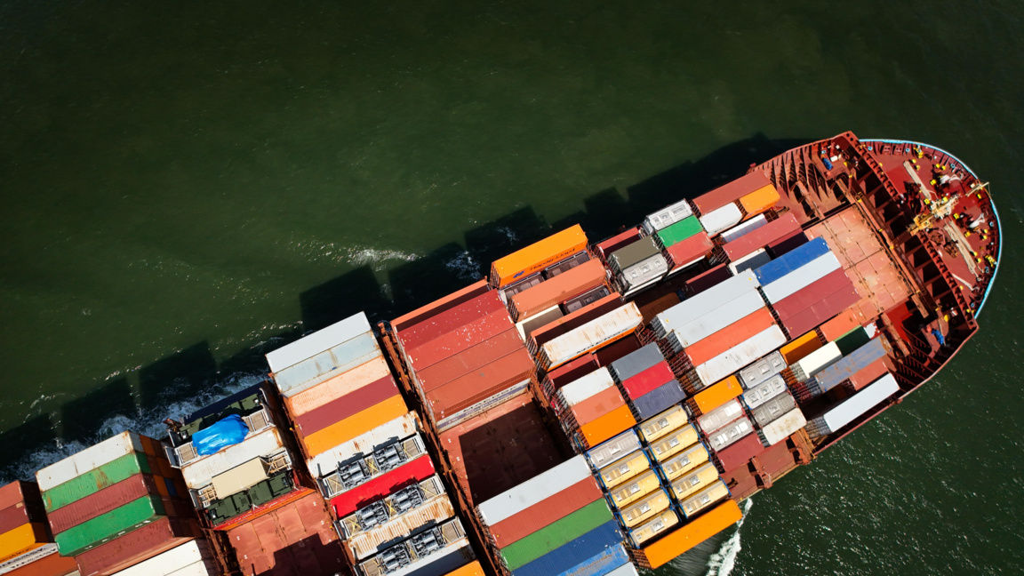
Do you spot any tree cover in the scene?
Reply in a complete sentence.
No, there's no tree cover in this view.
